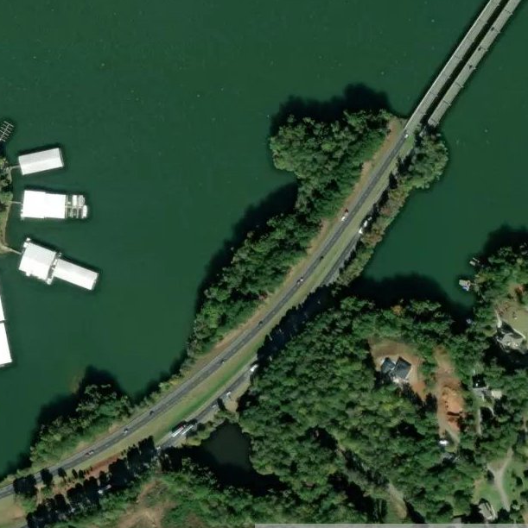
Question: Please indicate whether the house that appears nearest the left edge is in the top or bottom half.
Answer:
bottom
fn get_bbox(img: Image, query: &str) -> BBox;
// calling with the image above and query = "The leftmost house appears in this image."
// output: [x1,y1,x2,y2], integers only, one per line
[379,359,412,380]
